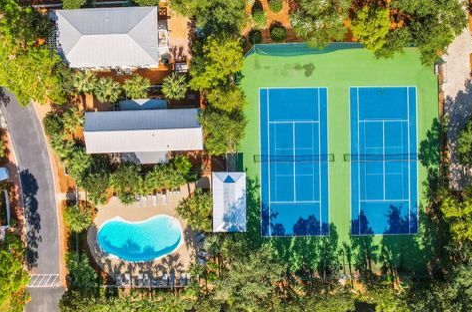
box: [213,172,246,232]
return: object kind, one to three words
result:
building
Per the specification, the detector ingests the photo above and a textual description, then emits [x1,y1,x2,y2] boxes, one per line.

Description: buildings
[56,8,173,71]
[78,101,203,164]
[213,172,246,232]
